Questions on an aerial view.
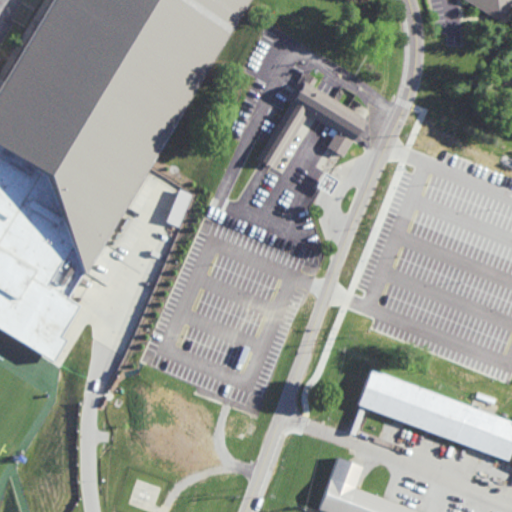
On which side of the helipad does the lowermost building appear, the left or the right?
right of it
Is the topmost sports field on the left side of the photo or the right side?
left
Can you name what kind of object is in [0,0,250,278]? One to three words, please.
building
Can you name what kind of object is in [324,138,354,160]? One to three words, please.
building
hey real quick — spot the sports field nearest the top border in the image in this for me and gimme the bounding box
[0,345,61,479]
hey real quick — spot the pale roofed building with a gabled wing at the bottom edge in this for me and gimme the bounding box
[318,458,412,512]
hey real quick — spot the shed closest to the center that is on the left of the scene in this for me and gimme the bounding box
[166,189,194,231]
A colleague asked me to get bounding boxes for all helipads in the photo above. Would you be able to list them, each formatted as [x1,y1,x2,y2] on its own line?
[129,478,161,512]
